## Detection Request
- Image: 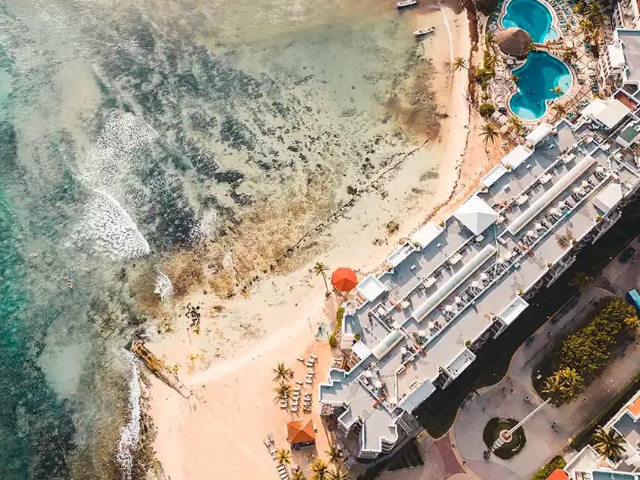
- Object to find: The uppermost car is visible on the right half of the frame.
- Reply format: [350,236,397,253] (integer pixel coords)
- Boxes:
[622,246,637,260]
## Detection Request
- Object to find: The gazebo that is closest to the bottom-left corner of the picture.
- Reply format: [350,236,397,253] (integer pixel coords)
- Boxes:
[287,420,315,445]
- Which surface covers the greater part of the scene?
water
